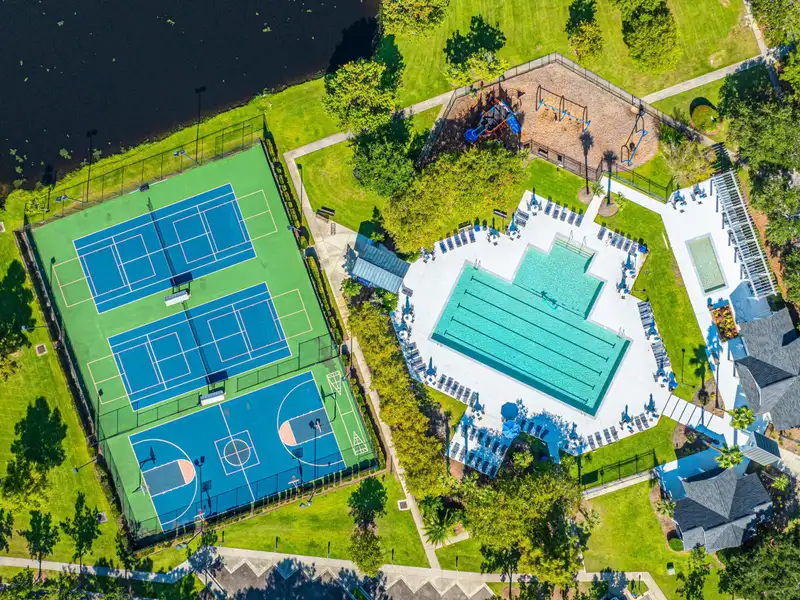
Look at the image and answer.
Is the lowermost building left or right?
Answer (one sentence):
The lowermost building sits on the right side.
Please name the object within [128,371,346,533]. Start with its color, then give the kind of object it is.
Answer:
blue basketball court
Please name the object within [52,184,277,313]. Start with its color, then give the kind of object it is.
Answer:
blue tennis court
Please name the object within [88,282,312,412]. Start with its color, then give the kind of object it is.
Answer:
blue tennis court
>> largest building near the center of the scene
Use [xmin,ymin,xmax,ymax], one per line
[352,244,410,295]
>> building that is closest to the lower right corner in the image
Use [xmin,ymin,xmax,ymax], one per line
[673,468,776,555]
